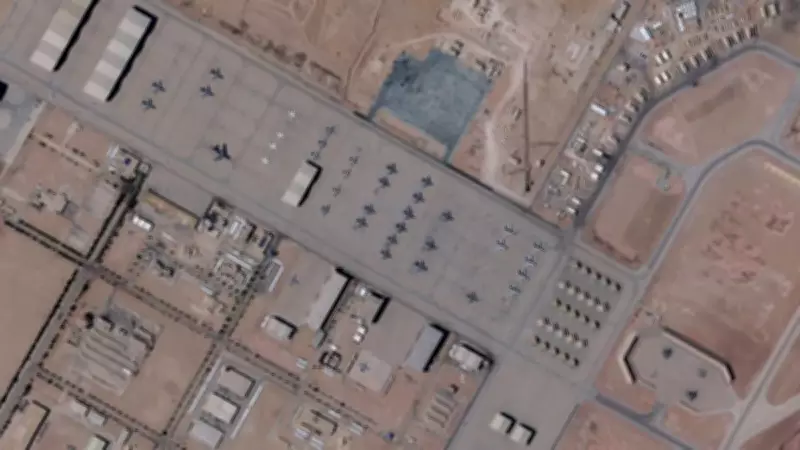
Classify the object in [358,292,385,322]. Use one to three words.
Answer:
hangar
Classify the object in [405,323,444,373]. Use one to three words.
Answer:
hangar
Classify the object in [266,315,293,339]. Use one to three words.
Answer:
building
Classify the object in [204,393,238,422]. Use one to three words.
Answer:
building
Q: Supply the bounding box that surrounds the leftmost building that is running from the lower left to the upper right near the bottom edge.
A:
[3,402,49,450]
